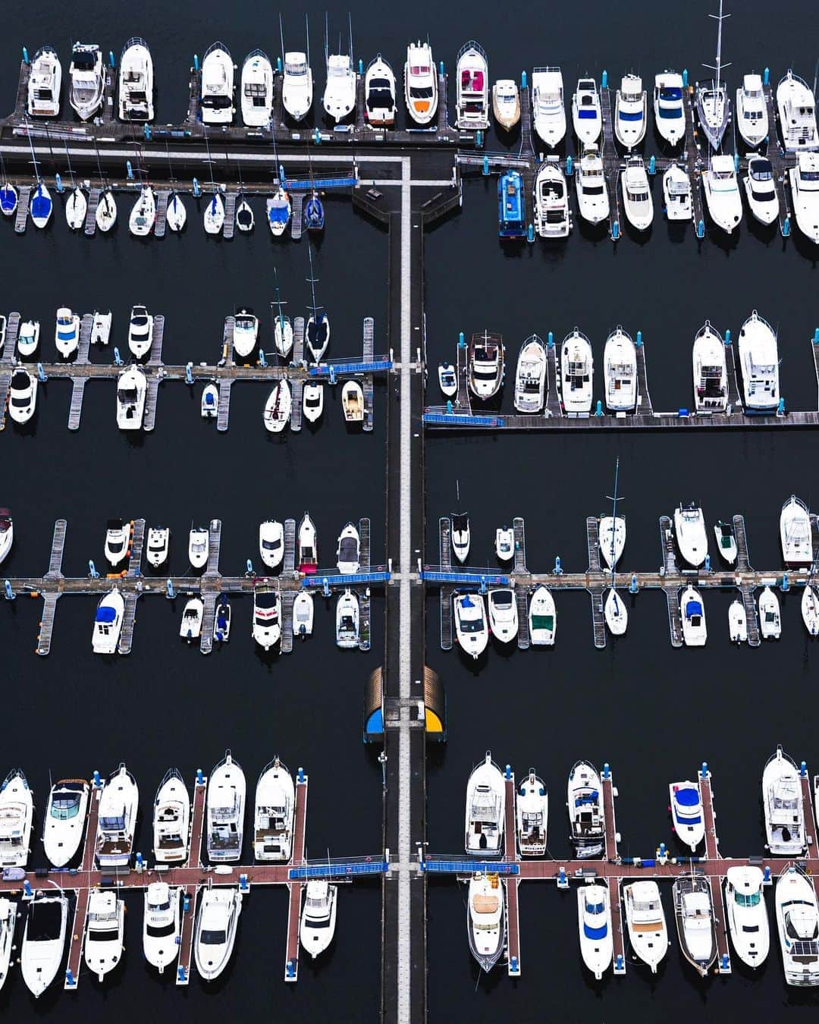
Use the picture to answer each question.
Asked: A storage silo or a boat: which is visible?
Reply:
boat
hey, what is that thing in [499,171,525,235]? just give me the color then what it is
blue ship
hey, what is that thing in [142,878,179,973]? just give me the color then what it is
white boat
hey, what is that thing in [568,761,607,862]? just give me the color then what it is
white boat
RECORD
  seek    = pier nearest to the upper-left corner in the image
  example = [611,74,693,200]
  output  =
[11,61,30,123]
